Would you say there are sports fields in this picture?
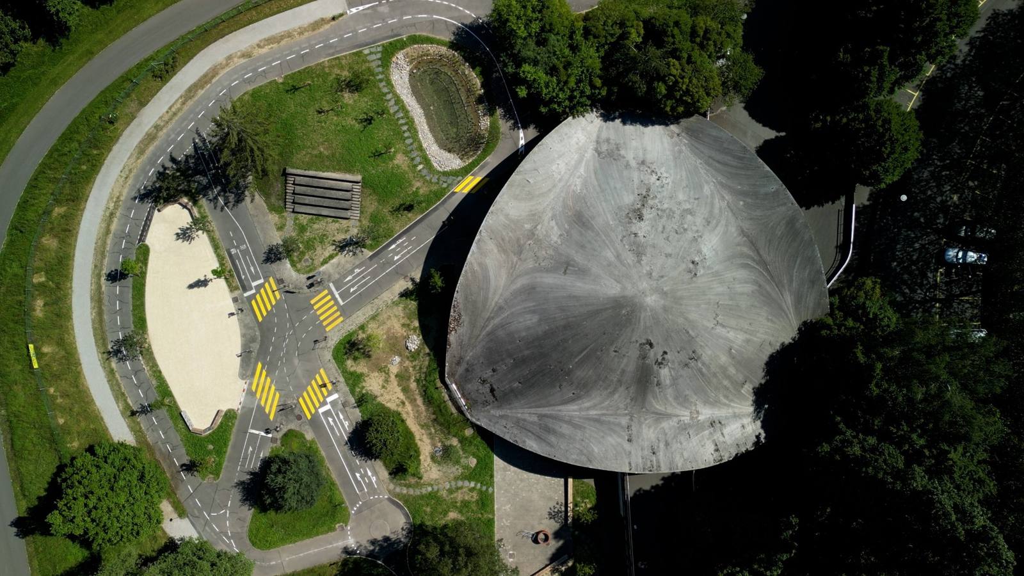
Yes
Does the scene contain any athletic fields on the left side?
Yes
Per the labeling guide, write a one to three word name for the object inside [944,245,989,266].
car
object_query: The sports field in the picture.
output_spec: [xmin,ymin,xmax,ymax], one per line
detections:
[144,205,247,430]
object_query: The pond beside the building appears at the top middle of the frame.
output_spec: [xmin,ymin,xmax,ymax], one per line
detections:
[390,43,490,171]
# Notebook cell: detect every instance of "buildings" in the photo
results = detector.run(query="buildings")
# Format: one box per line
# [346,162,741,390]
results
[445,98,836,475]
